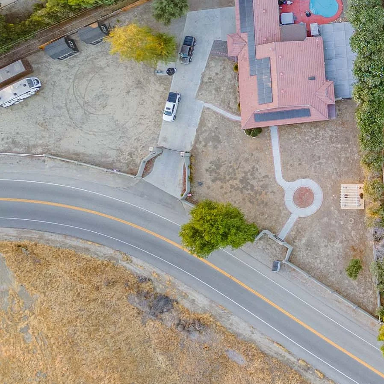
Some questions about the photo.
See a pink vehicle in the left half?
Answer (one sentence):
No, no pink vehicle is visible in the left half.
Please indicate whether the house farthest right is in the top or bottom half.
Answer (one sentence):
It is in the top half that the house farthest right appears.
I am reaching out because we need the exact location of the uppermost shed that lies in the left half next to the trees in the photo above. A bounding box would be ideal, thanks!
[78,20,110,45]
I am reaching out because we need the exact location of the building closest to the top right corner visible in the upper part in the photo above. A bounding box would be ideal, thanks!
[226,0,337,128]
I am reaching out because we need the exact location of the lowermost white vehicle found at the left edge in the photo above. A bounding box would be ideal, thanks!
[0,78,49,112]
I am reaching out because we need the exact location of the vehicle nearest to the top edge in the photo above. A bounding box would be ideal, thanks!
[179,35,196,66]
